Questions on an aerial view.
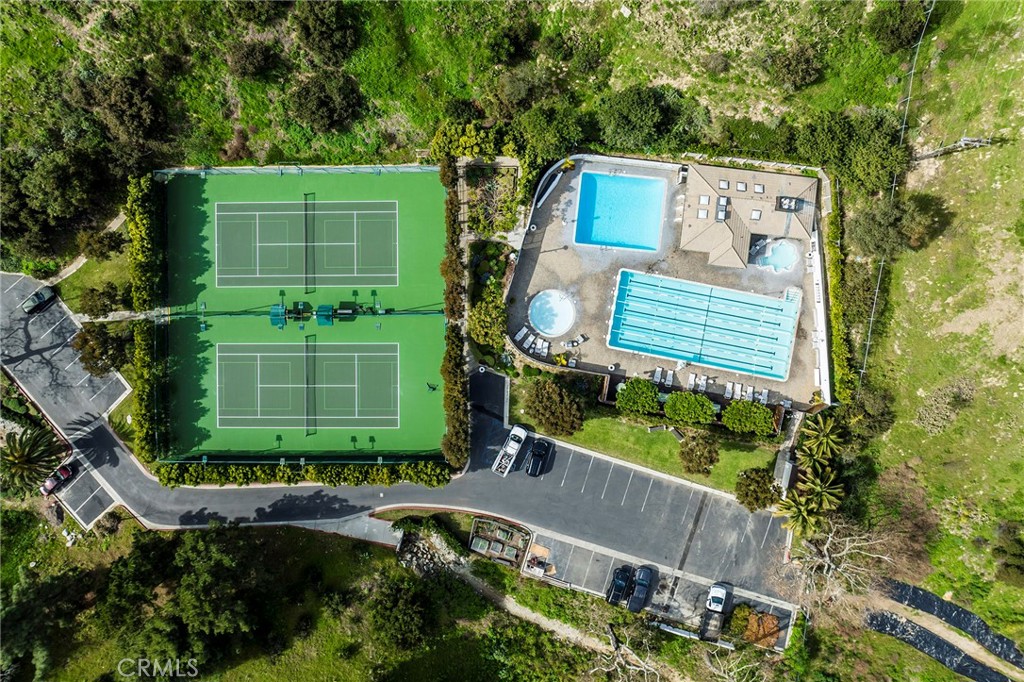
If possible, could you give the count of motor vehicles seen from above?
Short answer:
7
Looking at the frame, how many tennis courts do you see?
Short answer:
2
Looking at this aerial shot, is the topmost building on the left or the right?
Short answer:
right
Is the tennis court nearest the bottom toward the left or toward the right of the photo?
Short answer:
left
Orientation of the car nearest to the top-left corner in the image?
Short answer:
on a diagonal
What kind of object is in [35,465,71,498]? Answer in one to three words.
car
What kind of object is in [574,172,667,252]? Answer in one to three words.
swimming pool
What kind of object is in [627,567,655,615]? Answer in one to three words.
truck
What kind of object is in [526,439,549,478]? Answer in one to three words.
car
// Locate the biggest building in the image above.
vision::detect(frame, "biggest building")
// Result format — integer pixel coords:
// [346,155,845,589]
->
[677,164,818,269]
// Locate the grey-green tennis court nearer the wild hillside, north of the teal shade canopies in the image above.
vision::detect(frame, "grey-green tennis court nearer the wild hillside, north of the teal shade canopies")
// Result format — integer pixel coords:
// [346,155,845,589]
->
[167,169,446,317]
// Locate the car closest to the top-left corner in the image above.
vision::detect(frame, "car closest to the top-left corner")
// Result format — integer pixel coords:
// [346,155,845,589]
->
[15,284,54,316]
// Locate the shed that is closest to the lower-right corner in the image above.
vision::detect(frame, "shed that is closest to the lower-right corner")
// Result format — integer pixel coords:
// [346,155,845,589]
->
[773,459,793,496]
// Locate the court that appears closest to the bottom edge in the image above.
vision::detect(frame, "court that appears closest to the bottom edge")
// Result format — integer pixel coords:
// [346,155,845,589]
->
[167,317,446,461]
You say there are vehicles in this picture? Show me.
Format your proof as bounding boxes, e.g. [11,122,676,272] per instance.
[627,567,655,615]
[494,428,525,475]
[35,465,71,498]
[526,439,549,478]
[15,284,54,316]
[607,565,633,609]
[702,584,728,646]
